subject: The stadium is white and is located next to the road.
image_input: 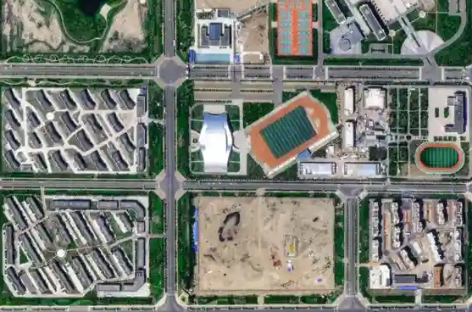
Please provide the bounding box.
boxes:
[199,114,233,175]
